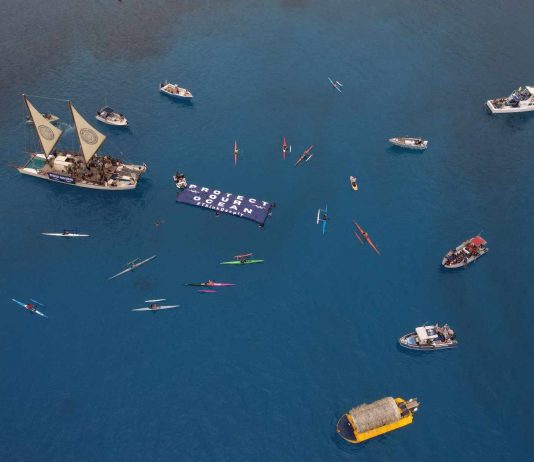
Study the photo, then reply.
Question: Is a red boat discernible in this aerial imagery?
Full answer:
Yes, there's a red boat here.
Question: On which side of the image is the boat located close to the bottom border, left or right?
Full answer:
The boat located close to the bottom border sits on the right side.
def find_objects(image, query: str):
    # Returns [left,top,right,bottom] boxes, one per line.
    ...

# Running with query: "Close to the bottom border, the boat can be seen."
[337,399,424,443]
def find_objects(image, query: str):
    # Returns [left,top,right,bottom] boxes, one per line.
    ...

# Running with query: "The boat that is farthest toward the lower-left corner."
[11,298,46,318]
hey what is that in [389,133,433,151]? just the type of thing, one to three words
boat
